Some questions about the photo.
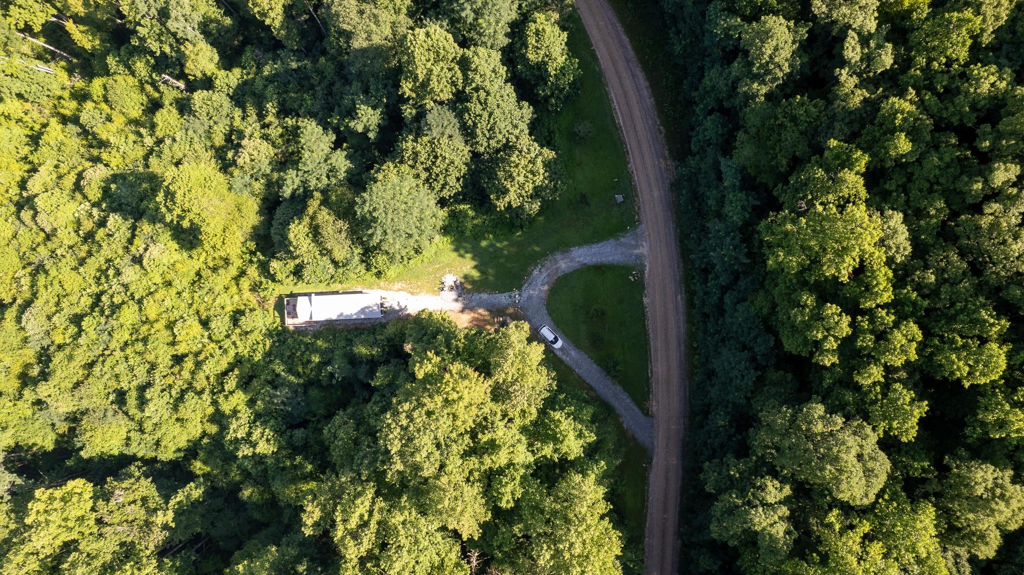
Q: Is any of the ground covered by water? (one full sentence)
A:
No, no water is visible.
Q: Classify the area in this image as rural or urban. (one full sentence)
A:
This place is rural.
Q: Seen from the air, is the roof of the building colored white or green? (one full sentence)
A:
From above, the roof of the building appears white.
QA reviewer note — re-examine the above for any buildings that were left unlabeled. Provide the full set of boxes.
[296,293,383,321]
